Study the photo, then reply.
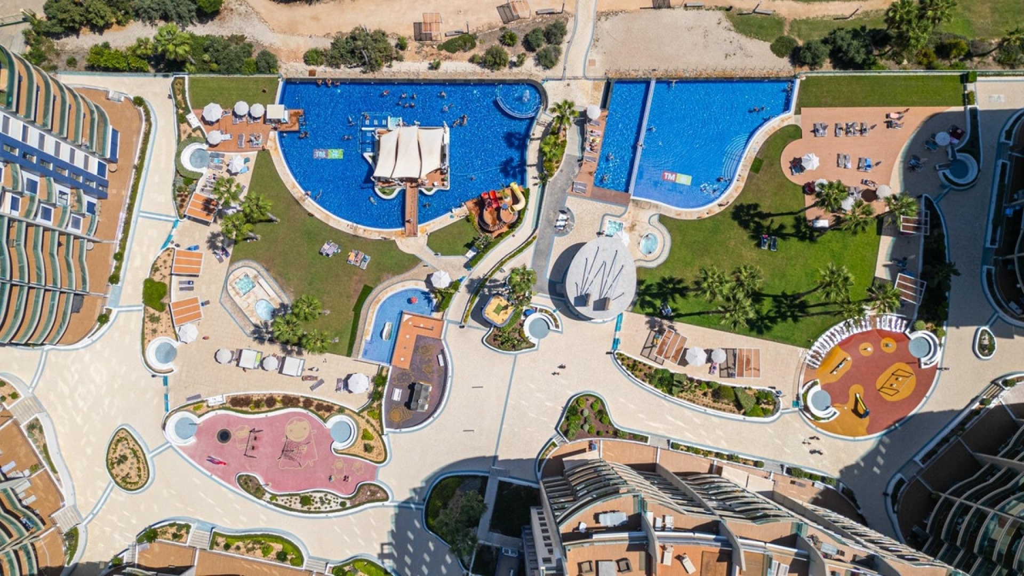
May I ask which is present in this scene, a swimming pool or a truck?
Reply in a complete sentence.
Of the two, only a swimming pool appears.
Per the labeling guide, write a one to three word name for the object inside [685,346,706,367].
umbrella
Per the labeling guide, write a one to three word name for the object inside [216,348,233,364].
umbrella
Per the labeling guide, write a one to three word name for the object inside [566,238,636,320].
building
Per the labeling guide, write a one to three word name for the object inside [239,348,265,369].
tent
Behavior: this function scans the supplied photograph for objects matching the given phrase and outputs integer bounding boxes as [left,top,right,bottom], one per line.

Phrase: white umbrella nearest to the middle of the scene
[431,269,451,289]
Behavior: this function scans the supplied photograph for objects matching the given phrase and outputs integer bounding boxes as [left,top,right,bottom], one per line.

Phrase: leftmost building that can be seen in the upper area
[0,48,119,345]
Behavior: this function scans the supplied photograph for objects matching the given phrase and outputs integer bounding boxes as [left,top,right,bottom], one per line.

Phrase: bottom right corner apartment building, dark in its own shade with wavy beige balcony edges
[917,419,1024,576]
